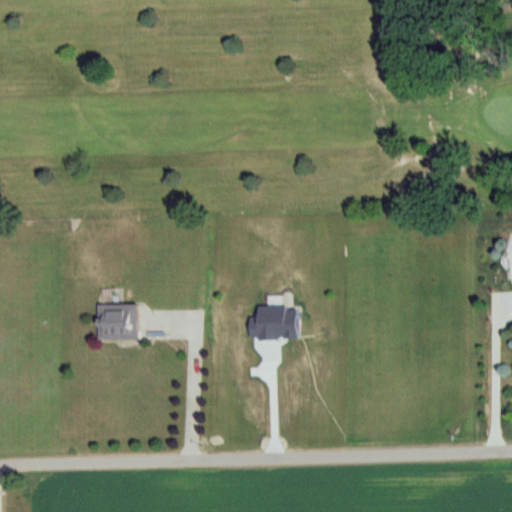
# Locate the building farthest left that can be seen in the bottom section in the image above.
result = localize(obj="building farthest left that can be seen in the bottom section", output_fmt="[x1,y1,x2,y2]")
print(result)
[92,304,138,340]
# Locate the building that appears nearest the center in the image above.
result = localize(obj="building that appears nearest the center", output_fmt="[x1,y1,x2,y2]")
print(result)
[247,295,300,340]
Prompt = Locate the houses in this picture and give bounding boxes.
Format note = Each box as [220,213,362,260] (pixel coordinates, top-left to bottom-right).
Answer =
[92,304,138,340]
[247,295,300,340]
[501,234,512,285]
